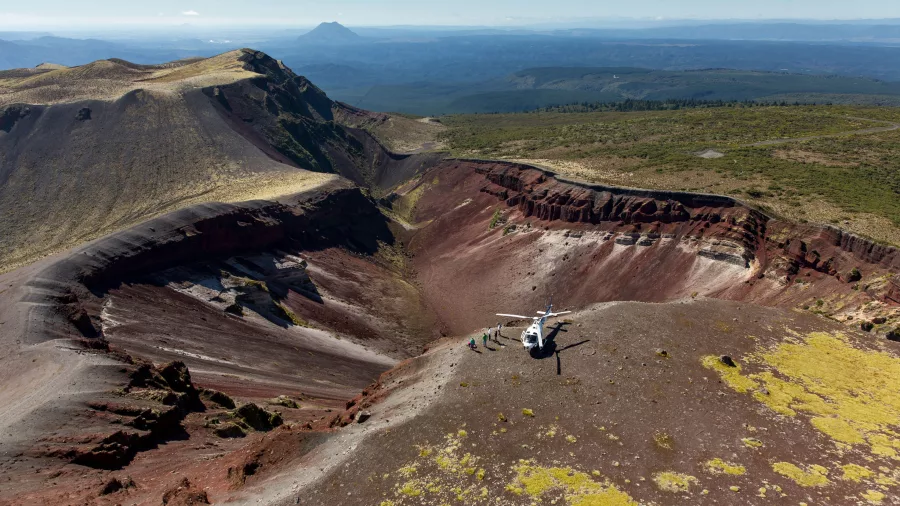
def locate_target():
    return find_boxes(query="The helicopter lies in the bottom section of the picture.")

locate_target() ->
[497,299,569,350]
